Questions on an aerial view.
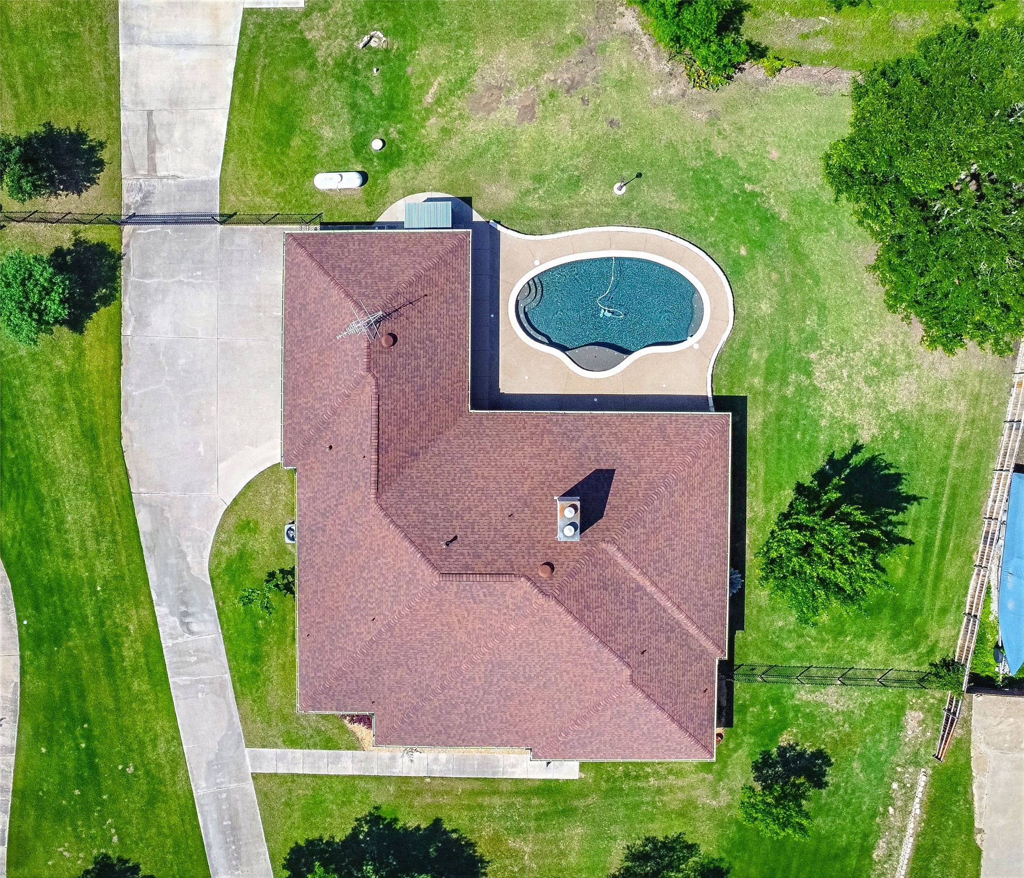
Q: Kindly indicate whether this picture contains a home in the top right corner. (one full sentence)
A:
No, no home can be made out in the top right corner.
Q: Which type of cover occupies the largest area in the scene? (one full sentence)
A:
The bulk of the photo consists of grass.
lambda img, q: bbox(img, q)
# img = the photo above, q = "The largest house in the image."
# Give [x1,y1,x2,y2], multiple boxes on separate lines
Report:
[281,230,731,760]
